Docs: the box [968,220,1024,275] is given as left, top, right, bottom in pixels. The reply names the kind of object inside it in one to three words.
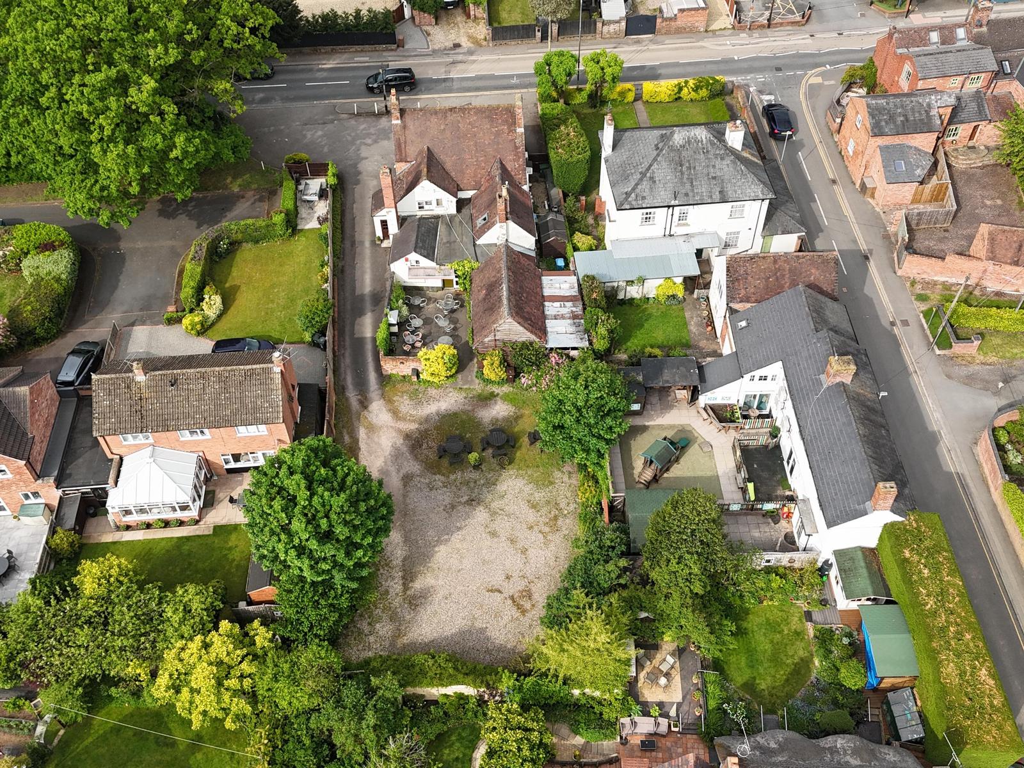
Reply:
shed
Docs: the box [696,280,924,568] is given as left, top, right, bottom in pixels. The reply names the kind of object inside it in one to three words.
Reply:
building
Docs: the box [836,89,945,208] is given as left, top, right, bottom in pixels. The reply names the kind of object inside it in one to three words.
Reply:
house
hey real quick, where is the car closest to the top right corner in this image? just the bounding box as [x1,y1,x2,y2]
[758,105,800,143]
